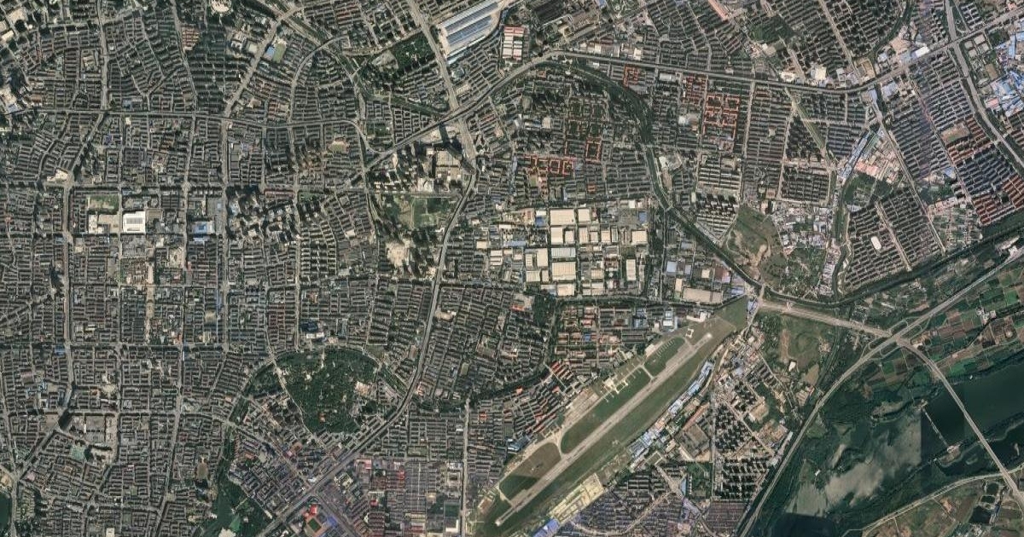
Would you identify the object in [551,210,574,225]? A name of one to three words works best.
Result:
building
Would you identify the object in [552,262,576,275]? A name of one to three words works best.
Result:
building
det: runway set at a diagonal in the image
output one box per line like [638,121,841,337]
[496,332,712,525]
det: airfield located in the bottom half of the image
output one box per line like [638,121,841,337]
[471,296,749,537]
